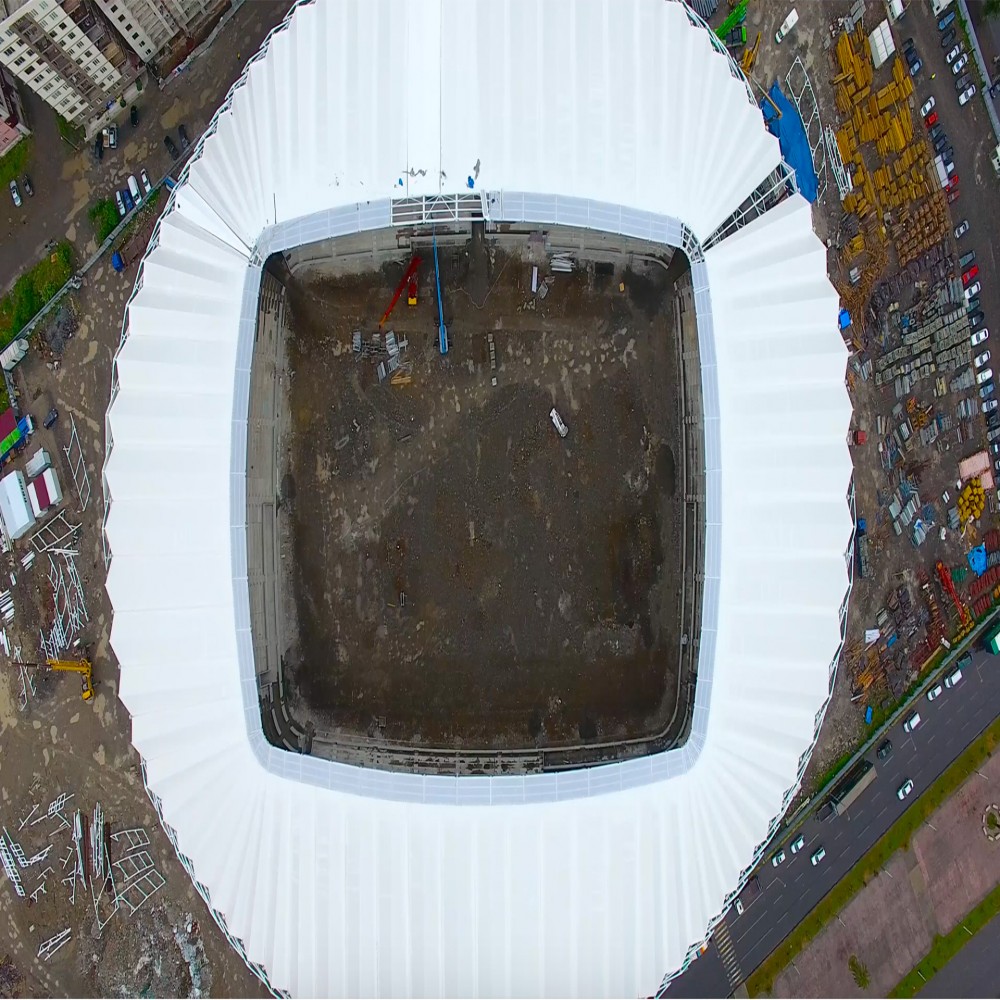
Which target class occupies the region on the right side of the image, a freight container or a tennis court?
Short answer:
freight container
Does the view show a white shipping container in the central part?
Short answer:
No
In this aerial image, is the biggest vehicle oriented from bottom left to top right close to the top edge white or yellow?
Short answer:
white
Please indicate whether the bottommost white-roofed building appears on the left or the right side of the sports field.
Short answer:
left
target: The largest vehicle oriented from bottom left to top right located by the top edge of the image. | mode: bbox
[777,1,803,42]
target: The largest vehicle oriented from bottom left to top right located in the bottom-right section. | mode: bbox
[817,754,877,817]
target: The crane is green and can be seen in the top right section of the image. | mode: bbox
[716,0,753,57]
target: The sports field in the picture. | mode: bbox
[269,249,691,751]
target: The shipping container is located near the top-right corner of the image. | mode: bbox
[870,19,896,71]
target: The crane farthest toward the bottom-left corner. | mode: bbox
[11,658,100,708]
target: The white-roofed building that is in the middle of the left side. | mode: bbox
[0,470,36,539]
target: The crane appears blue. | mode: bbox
[431,224,455,354]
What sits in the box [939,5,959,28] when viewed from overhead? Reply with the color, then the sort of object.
blue car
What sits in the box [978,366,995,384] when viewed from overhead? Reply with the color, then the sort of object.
white car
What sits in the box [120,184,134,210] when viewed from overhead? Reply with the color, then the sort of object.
blue vehicle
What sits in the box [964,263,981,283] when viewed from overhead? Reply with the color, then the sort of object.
red car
